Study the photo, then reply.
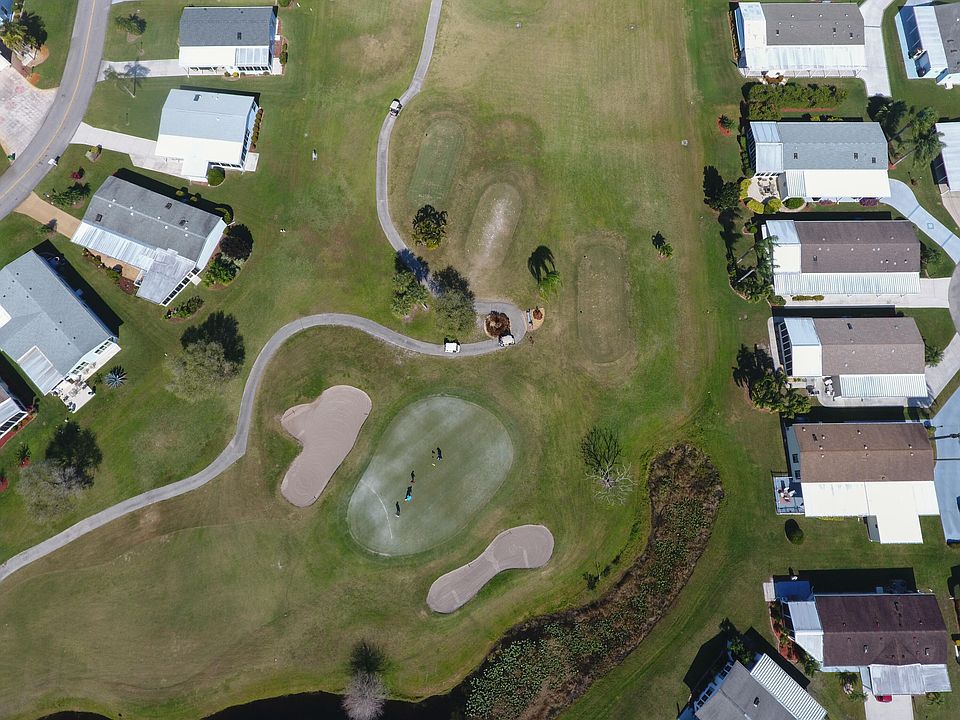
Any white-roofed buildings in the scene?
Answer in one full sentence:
Yes, the image includes a white-roofed building.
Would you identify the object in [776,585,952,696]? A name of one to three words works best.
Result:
house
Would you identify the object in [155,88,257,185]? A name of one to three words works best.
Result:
house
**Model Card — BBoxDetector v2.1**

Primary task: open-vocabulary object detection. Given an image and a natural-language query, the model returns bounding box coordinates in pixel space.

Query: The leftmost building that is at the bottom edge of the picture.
[671,649,828,720]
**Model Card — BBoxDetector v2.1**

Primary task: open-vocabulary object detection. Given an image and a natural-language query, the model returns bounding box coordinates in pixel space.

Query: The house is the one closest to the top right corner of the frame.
[900,3,960,94]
